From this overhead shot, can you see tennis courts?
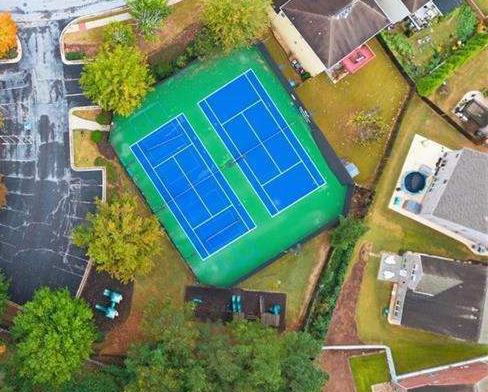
Yes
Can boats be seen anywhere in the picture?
No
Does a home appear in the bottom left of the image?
No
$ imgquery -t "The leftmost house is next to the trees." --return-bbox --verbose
[266,0,391,73]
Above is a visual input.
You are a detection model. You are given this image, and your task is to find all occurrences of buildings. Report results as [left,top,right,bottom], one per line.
[424,147,488,237]
[391,375,478,392]
[266,0,391,73]
[390,254,488,343]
